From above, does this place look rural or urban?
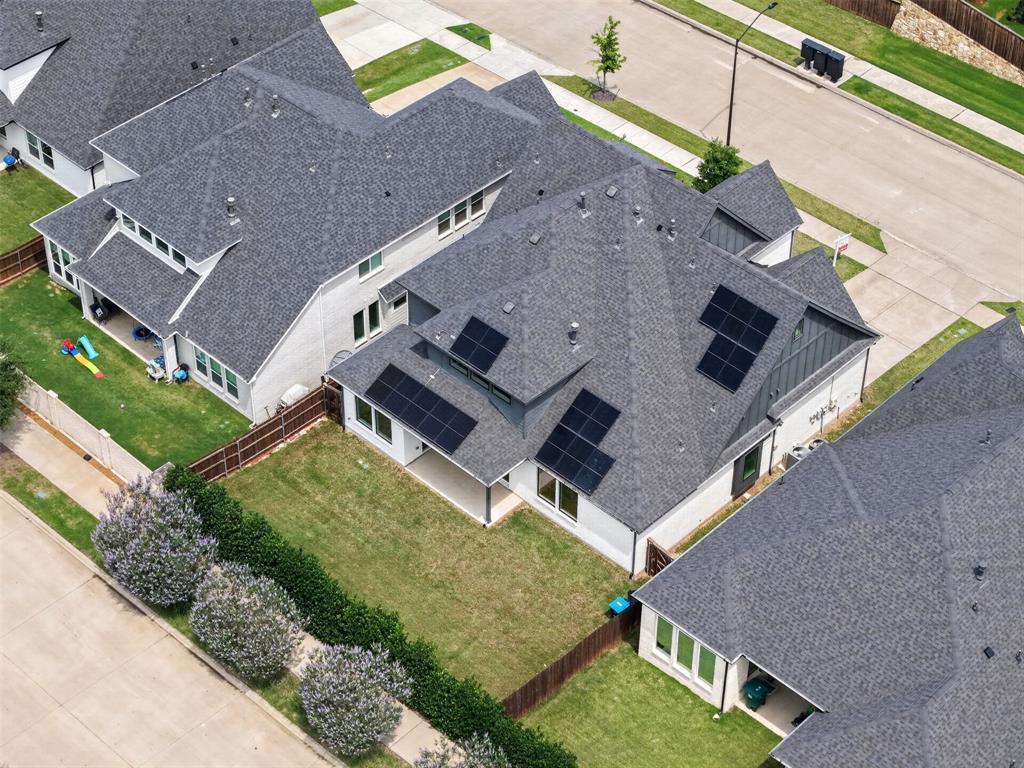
urban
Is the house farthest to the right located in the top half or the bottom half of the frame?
bottom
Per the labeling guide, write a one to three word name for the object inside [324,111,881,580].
house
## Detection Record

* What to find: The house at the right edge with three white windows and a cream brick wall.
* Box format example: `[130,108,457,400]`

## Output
[631,313,1024,768]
